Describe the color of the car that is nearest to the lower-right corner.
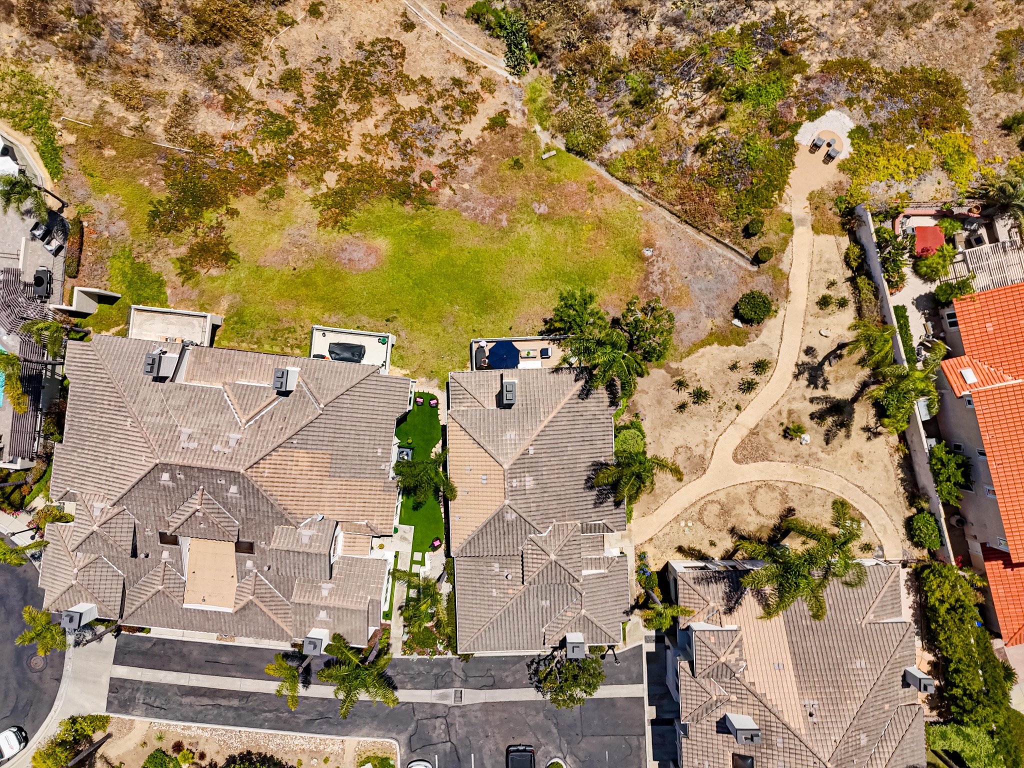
black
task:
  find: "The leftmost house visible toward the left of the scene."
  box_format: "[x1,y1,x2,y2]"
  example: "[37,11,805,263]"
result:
[38,333,418,656]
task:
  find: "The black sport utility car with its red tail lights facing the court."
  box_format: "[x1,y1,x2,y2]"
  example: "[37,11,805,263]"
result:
[507,748,533,768]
